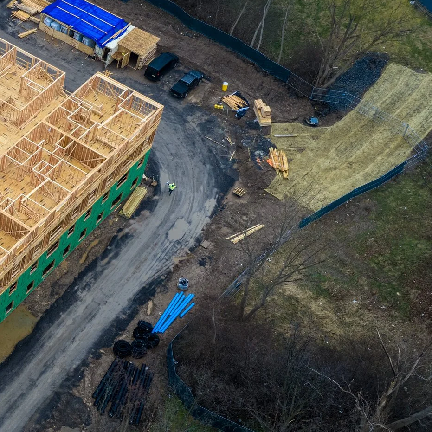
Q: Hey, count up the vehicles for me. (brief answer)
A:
2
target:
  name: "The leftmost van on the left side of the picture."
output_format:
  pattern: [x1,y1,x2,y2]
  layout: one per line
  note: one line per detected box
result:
[145,53,181,84]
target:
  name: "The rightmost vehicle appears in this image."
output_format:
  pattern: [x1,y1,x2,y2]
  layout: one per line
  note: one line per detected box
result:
[169,69,205,100]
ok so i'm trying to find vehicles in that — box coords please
[169,69,205,100]
[145,53,181,84]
